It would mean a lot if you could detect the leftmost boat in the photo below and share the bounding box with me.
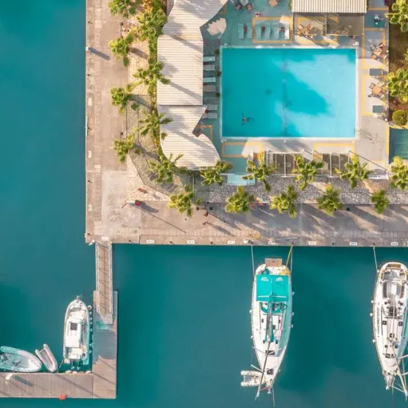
[0,347,41,373]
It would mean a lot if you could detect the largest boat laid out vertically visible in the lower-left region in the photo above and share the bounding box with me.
[57,297,93,372]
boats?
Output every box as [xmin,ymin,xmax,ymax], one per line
[249,243,293,406]
[57,297,93,372]
[37,345,56,372]
[241,371,264,386]
[0,347,41,373]
[370,248,408,398]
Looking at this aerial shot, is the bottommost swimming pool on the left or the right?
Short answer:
right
